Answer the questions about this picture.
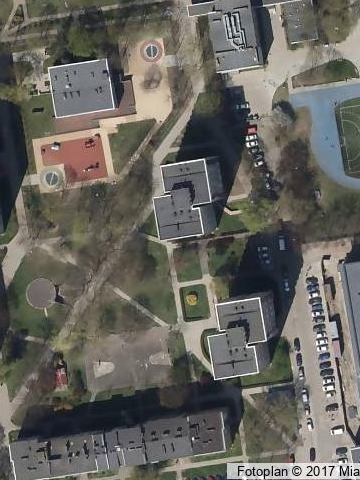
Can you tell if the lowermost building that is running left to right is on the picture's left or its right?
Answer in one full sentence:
The lowermost building that is running left to right sits on the left side.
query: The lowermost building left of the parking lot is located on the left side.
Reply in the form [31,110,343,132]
[10,409,232,480]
